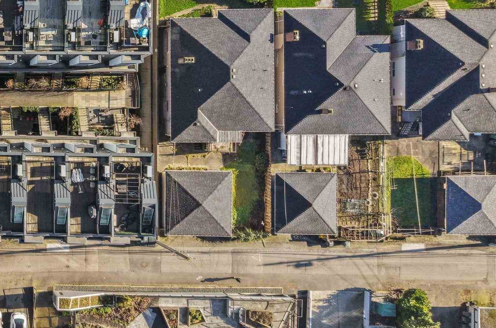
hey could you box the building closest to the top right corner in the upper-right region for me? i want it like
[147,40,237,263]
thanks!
[375,9,496,141]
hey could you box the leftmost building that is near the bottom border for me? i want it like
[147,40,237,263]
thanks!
[370,300,394,316]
